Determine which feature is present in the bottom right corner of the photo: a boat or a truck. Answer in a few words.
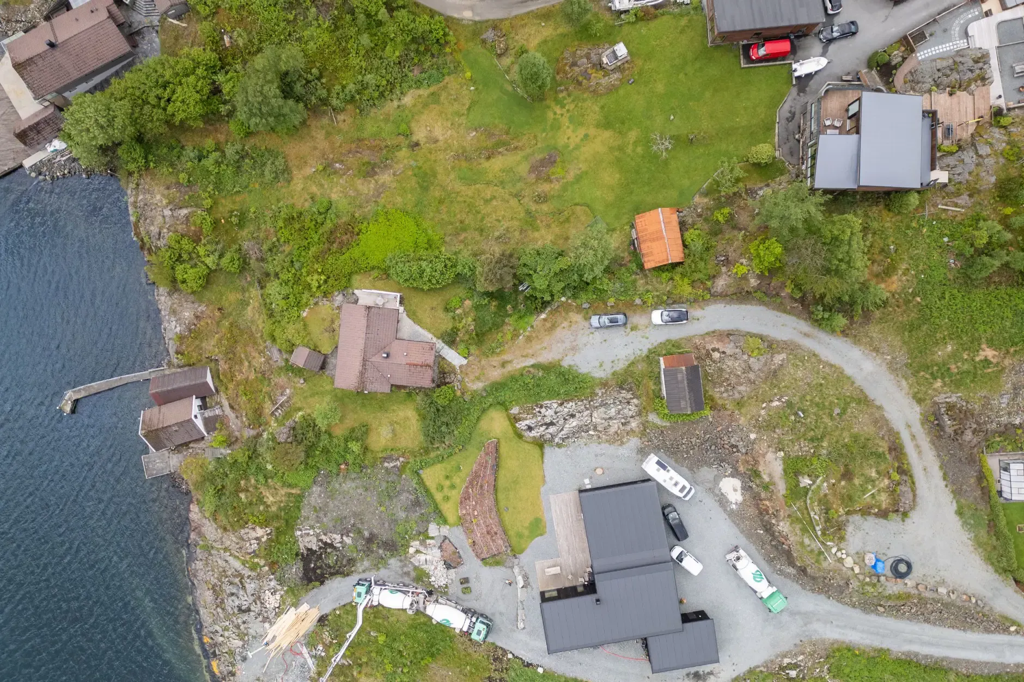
truck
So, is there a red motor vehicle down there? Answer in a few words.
Yes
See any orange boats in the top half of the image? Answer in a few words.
No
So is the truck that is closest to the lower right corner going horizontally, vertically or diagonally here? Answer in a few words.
diagonally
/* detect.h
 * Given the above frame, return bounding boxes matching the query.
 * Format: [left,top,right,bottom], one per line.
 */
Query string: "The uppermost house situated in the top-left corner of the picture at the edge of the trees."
[146,0,203,40]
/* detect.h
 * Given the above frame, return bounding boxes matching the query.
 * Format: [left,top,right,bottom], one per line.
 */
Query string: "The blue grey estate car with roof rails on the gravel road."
[589,311,628,329]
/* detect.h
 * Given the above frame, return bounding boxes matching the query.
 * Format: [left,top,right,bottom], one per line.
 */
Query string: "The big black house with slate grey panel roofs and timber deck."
[539,479,720,674]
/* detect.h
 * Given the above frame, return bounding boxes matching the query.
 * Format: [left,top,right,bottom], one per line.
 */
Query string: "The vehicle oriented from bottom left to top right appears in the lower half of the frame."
[317,574,435,682]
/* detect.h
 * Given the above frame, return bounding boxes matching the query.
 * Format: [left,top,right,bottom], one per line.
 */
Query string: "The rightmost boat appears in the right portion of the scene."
[789,55,834,79]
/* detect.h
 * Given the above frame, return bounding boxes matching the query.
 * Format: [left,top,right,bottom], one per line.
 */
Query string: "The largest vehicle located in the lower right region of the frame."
[725,546,792,617]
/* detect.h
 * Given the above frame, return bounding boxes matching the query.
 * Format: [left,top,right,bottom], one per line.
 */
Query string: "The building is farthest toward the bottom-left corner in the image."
[141,397,211,453]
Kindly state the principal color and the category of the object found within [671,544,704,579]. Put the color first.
white van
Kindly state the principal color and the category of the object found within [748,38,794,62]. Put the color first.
red vehicle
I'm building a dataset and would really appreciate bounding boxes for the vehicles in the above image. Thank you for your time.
[662,503,690,544]
[589,311,628,329]
[423,593,497,645]
[816,20,860,45]
[671,544,704,579]
[725,546,792,617]
[748,38,794,62]
[317,574,435,682]
[650,307,689,326]
[640,453,691,499]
